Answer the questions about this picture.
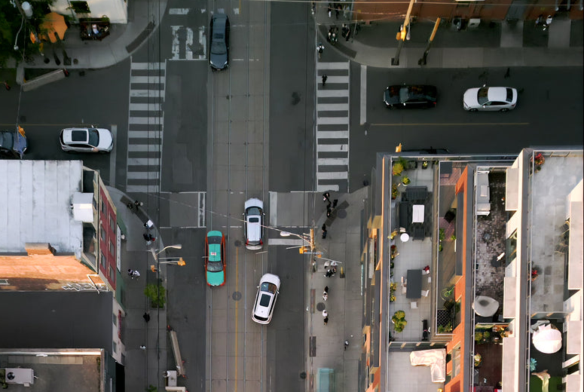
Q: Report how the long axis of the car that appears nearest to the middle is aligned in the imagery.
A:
up and down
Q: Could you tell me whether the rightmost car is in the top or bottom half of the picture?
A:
top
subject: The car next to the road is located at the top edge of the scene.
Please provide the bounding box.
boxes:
[207,13,232,73]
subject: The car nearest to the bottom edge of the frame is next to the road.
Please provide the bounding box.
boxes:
[252,274,280,326]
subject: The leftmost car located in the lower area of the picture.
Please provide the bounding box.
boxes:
[203,231,228,290]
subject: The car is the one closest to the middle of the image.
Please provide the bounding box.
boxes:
[241,200,265,252]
